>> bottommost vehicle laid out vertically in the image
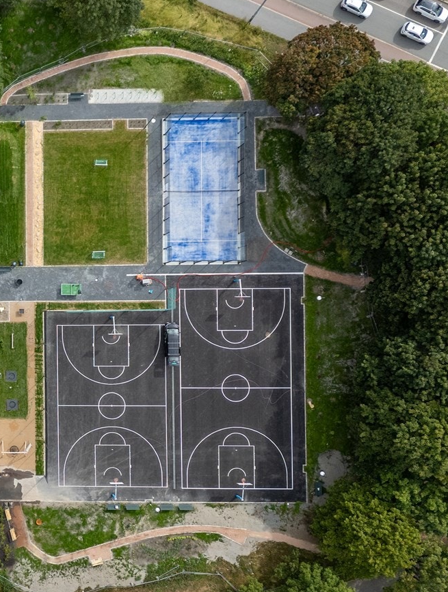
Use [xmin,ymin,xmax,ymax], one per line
[165,322,182,367]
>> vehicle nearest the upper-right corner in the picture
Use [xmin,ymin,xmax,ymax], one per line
[410,0,448,24]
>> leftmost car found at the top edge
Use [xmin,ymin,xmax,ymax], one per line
[338,0,373,19]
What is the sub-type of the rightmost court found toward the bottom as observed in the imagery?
basketball court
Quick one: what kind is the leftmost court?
basketball court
